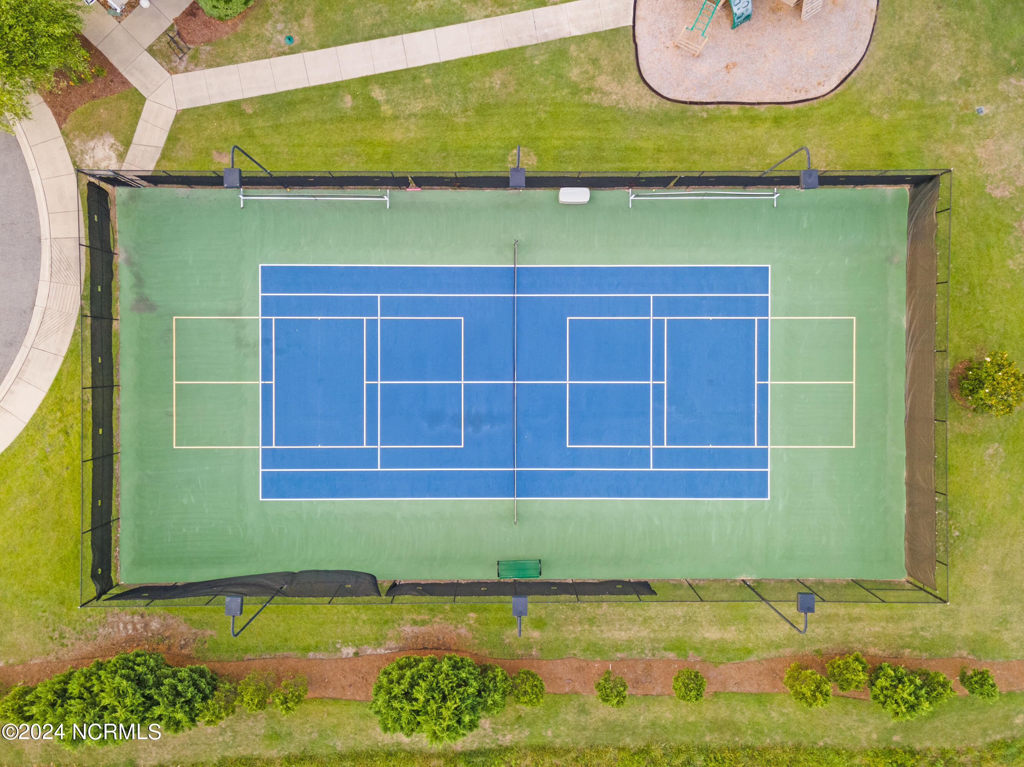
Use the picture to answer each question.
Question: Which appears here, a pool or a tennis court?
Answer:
tennis court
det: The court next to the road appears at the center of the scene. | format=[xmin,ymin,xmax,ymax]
[116,187,907,585]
